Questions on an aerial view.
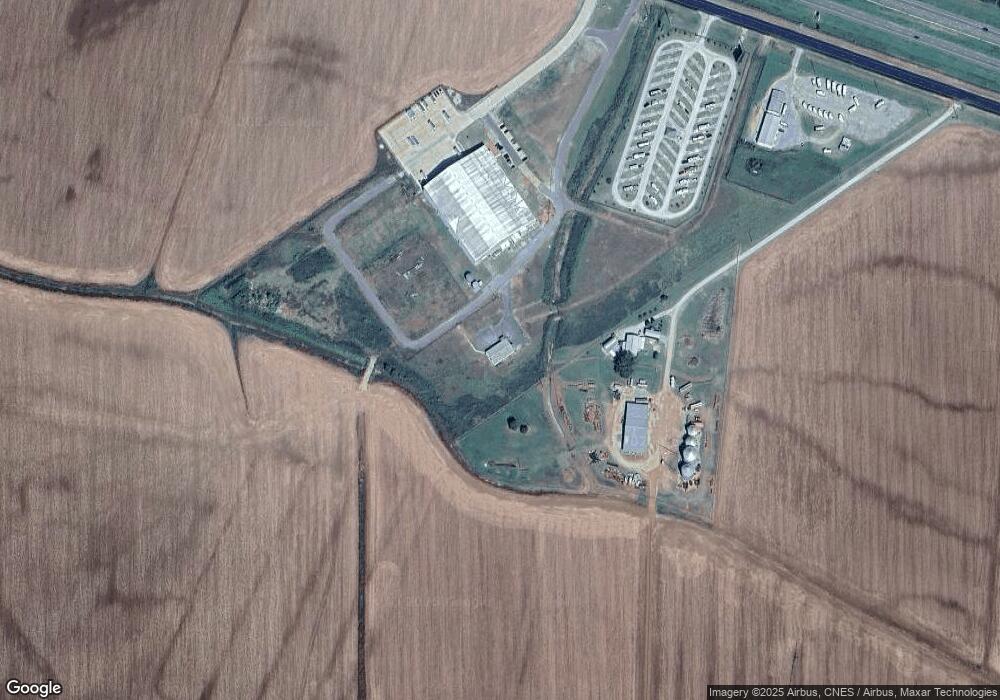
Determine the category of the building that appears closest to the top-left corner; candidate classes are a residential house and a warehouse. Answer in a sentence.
It turns out the building that appears closest to the top-left corner is a warehouse.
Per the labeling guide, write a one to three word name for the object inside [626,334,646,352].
house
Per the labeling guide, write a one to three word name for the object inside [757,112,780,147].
building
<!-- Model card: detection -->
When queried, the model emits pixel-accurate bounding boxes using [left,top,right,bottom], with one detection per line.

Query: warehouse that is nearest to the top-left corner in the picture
[423,149,539,264]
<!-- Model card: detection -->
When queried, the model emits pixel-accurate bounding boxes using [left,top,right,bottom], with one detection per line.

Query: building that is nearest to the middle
[486,340,515,365]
